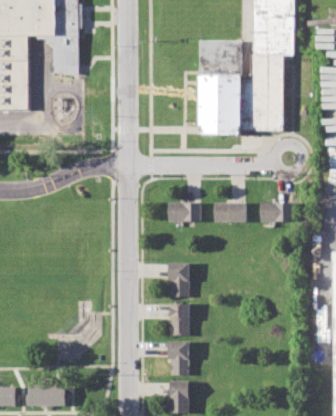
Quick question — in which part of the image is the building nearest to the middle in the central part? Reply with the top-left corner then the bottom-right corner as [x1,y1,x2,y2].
[164,201,191,226]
